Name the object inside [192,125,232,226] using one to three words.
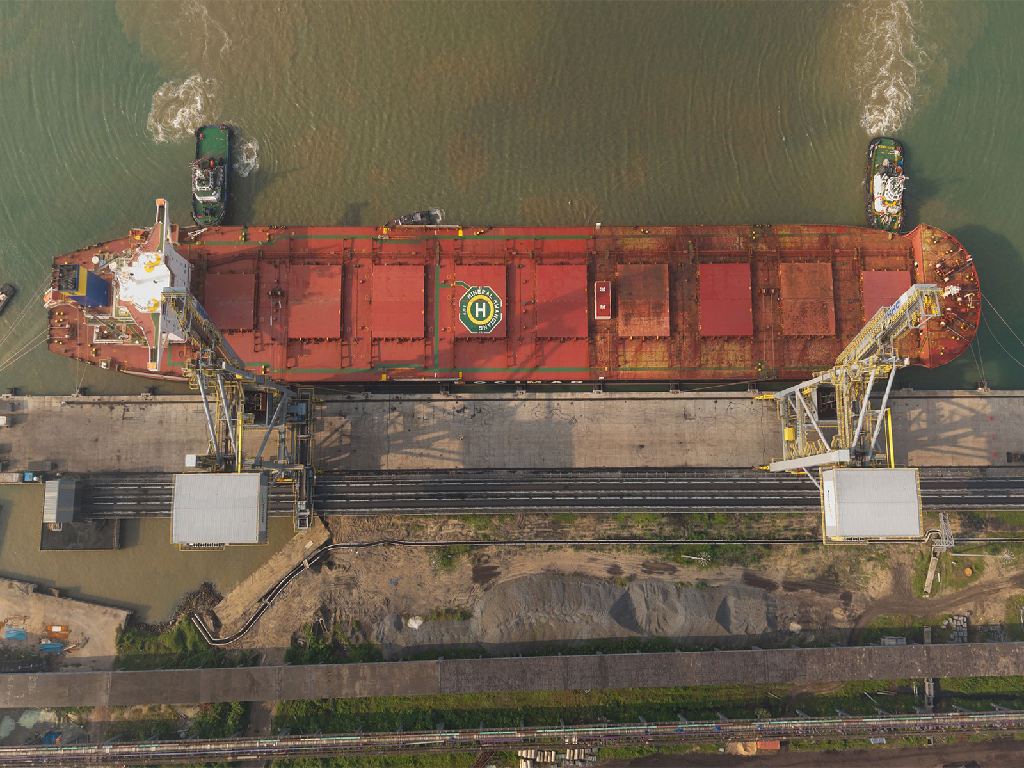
boat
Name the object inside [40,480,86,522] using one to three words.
shed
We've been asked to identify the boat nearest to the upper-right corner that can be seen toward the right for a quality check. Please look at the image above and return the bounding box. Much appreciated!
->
[866,135,910,231]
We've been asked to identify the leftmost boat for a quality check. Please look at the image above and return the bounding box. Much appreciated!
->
[0,278,22,317]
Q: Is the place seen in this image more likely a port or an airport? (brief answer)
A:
port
